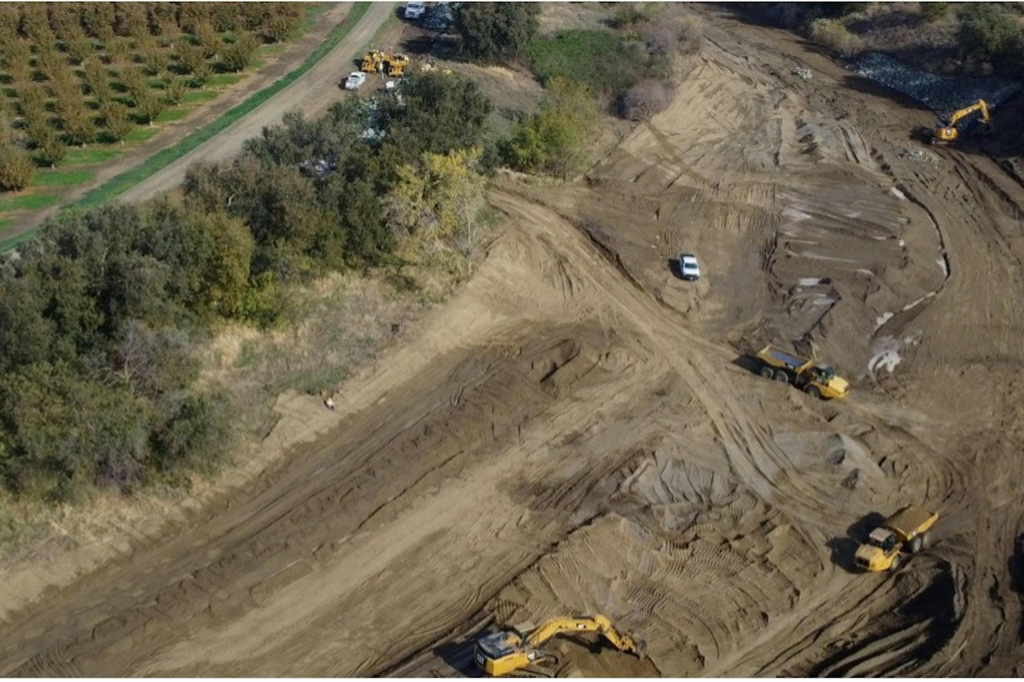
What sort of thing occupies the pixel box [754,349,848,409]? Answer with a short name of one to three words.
truck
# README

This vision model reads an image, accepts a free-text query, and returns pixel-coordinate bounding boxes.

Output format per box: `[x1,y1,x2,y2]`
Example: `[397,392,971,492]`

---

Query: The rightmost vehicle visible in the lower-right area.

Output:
[850,502,934,578]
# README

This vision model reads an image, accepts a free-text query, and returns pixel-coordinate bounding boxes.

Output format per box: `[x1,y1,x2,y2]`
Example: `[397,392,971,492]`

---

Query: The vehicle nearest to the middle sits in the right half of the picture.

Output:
[683,253,702,282]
